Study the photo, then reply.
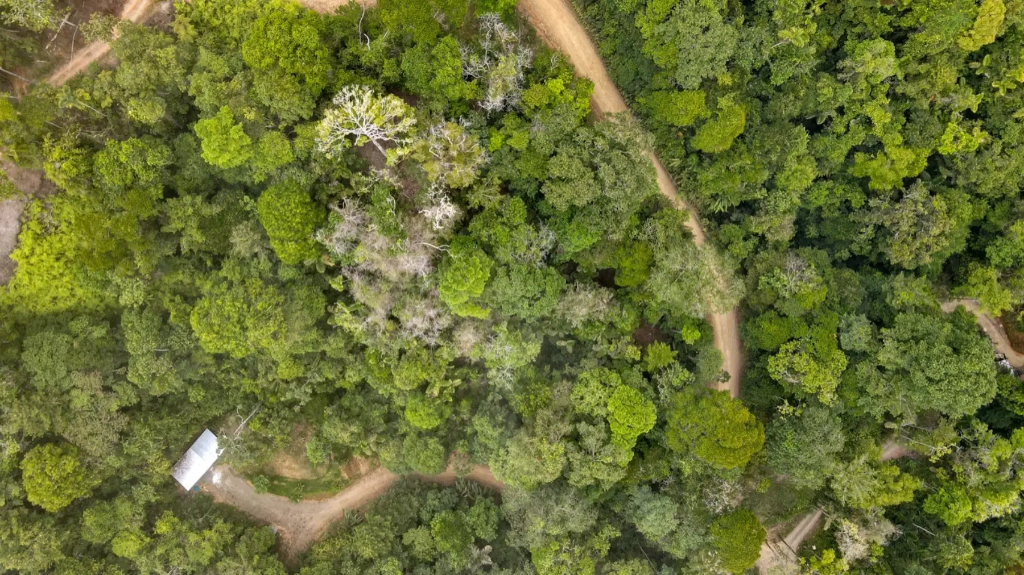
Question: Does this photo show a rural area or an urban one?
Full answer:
The area is rural.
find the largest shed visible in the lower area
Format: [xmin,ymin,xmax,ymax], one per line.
[169,429,225,490]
